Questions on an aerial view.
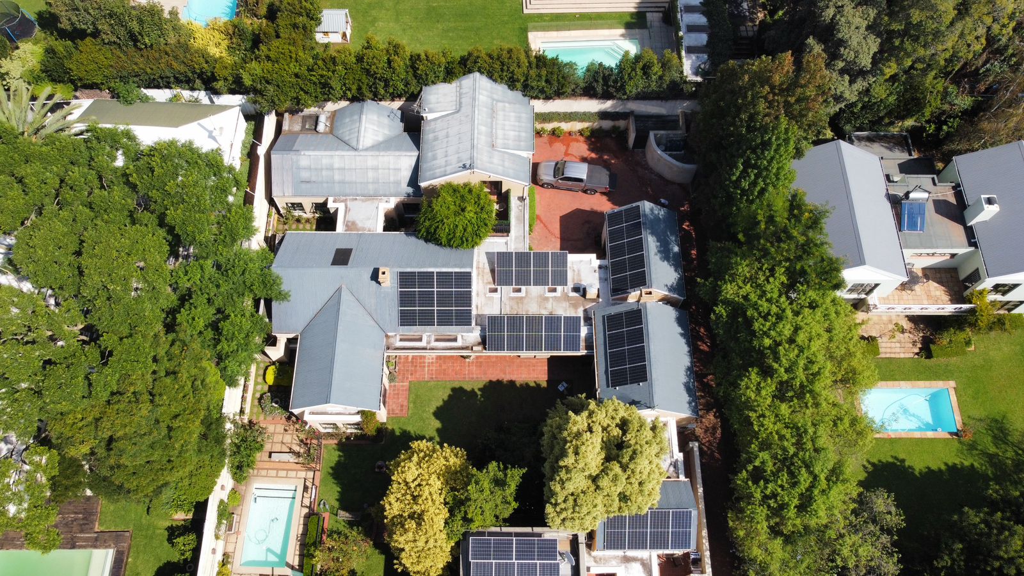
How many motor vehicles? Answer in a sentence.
In total, there is 1 motor vehicle in the scene.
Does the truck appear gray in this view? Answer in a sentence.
Yes, the truck appears gray.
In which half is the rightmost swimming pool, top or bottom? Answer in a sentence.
Seen from above, the rightmost swimming pool lies in the bottom half of the view.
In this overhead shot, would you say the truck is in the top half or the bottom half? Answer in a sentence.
It is in the top half that the truck appears.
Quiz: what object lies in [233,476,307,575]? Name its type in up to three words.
swimming pool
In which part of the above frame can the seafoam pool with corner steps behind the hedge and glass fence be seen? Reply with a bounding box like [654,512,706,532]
[536,36,644,92]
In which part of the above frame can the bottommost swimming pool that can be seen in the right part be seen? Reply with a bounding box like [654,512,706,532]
[853,380,970,441]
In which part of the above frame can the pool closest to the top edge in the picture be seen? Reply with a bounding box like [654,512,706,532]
[176,0,239,24]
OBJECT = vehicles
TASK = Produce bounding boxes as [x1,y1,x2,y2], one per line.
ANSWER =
[534,157,619,196]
